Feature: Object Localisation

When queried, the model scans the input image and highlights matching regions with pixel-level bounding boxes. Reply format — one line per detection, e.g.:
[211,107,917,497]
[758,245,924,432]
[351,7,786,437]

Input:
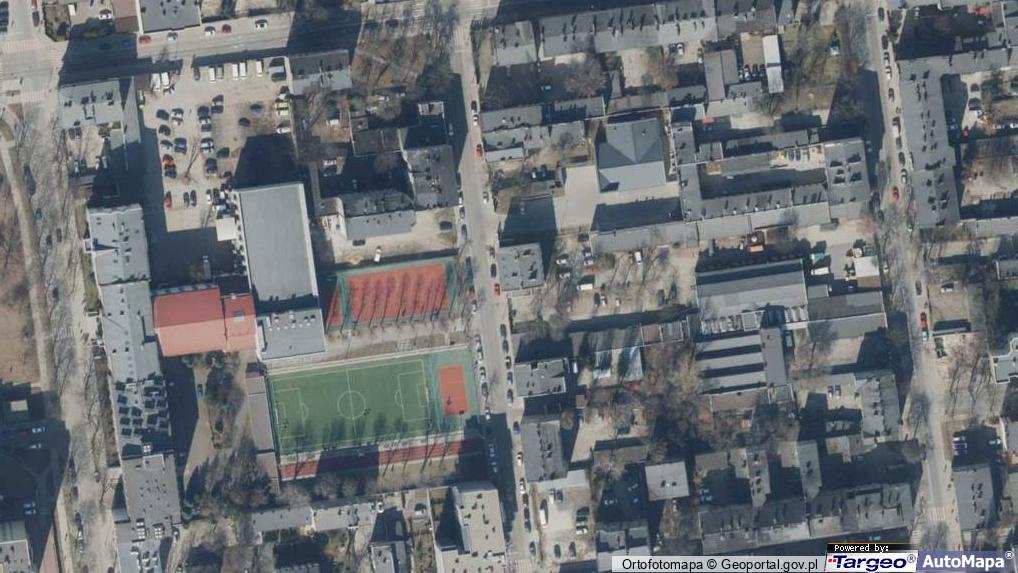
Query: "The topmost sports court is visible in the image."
[327,258,461,332]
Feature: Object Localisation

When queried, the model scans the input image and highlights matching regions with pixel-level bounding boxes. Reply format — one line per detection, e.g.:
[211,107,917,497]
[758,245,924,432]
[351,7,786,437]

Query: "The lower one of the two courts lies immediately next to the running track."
[425,348,483,432]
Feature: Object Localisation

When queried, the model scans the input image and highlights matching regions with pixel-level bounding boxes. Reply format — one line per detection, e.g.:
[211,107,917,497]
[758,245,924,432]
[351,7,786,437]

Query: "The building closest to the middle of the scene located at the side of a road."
[498,243,545,292]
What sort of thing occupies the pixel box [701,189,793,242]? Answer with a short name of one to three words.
building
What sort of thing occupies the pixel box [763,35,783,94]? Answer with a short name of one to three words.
building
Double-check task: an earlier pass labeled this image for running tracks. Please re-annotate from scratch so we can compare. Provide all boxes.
[279,428,486,480]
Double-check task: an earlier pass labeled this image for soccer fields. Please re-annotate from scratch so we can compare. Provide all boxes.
[267,355,432,455]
